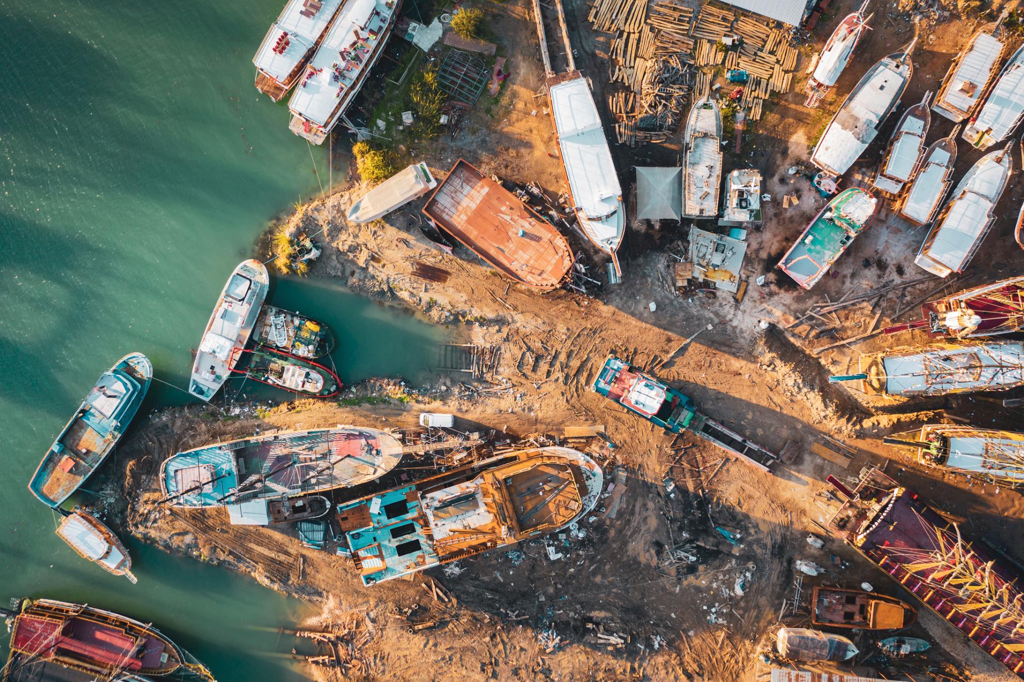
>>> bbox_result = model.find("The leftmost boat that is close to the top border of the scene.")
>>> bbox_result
[253,0,346,104]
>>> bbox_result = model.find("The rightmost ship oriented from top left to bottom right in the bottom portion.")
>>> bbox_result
[824,468,1024,682]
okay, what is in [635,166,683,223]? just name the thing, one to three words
tent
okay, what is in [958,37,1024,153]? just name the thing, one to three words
boat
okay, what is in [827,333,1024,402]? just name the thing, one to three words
ship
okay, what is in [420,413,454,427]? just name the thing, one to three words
vehicle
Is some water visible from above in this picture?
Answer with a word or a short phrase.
Yes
